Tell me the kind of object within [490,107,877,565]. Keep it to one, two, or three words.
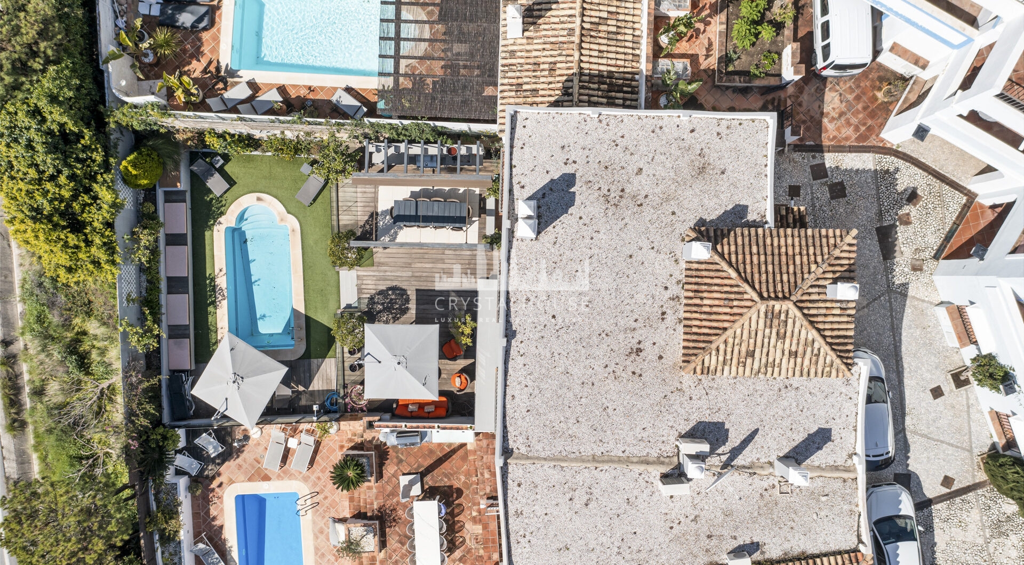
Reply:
house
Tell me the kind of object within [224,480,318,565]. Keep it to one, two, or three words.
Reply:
swimming pool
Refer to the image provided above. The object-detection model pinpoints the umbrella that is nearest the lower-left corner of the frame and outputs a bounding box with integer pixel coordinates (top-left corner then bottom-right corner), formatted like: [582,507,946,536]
[191,333,289,430]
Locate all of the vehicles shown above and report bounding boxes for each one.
[853,345,903,474]
[805,0,874,77]
[866,479,928,565]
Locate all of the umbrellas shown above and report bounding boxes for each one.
[191,333,289,430]
[345,324,439,400]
